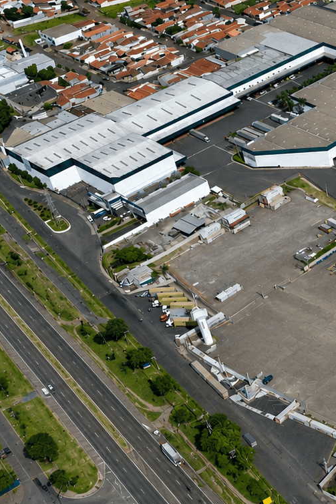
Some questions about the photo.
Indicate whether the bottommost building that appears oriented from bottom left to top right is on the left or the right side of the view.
right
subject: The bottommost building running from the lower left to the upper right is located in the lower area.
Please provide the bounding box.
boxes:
[274,399,300,428]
